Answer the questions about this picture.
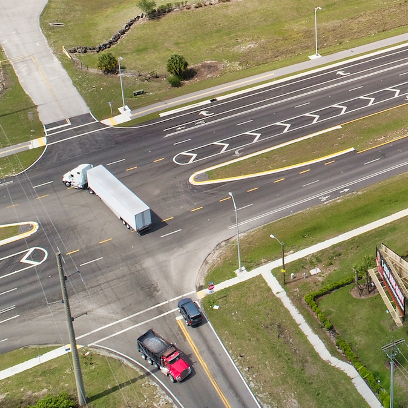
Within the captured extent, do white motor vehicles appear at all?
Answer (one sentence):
Yes, the image includes a white motor vehicle.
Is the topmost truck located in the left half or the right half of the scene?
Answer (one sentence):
The topmost truck appears in the left half of the scene.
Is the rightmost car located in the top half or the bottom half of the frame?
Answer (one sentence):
The bottom half of the photo is where the rightmost car is.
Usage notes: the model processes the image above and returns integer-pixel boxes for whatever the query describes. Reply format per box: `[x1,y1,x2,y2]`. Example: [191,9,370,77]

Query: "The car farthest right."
[180,297,205,324]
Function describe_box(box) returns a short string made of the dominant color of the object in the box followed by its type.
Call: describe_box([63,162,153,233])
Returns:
white truck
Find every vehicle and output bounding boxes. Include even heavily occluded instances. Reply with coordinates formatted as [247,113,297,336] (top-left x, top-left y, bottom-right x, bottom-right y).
[131,328,196,383]
[180,297,205,324]
[63,162,153,233]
